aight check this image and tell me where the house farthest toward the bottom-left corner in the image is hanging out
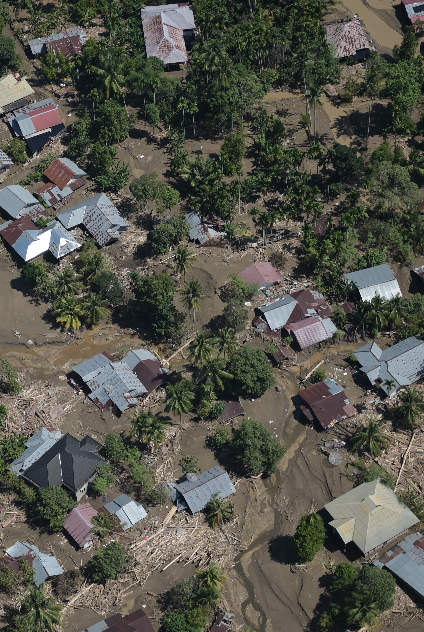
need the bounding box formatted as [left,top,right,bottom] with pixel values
[0,539,63,590]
